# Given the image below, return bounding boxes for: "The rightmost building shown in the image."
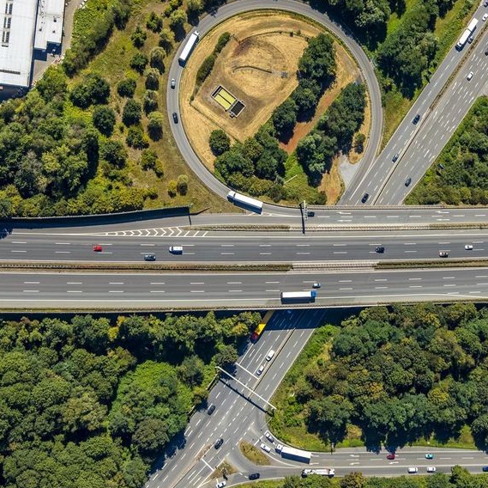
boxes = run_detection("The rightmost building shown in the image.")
[33,0,64,51]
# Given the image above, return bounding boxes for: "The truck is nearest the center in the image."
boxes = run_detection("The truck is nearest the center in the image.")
[225,191,261,213]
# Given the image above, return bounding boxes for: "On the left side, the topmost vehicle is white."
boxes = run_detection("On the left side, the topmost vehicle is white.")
[177,31,199,65]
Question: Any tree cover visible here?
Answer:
Yes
